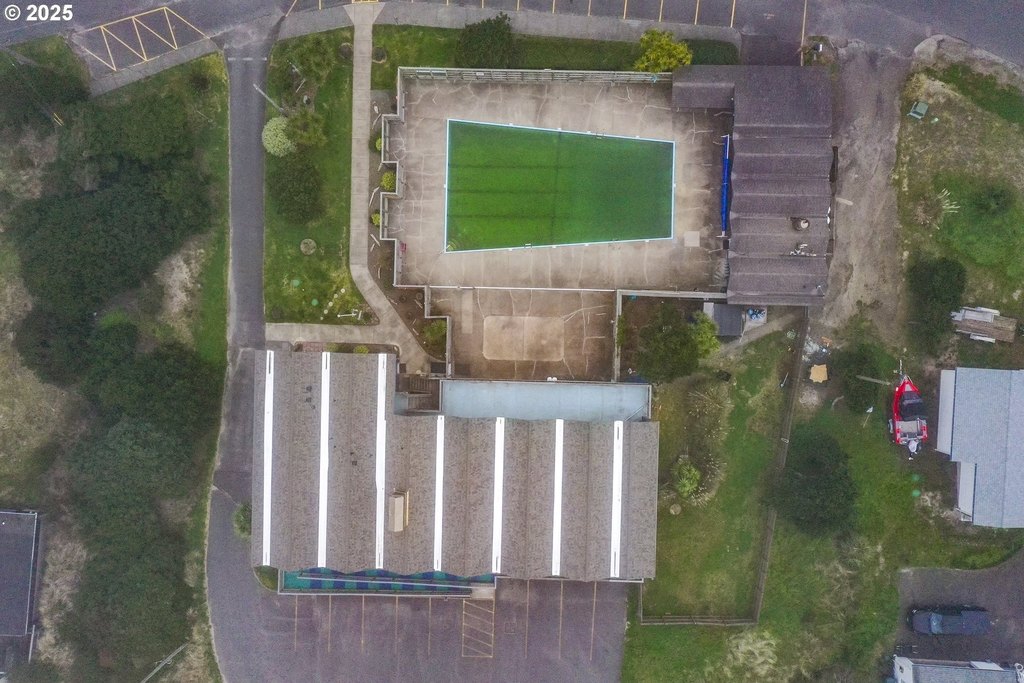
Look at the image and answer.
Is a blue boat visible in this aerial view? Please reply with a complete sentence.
No, there's no blue boat here.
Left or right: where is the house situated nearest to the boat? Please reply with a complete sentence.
It is on the right.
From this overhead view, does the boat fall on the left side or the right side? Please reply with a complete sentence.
You can find the boat on the right side of the picture.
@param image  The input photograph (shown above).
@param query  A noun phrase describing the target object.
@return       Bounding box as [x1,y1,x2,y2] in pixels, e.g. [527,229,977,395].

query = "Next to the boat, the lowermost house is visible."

[936,366,1024,528]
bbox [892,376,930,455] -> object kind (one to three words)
boat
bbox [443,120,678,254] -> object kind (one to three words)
swimming pool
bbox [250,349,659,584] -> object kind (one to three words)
building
